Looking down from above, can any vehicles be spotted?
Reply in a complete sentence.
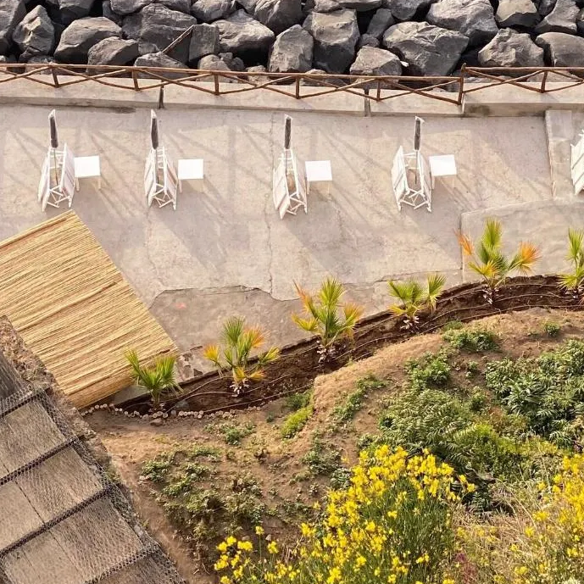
No, no vehicle can be seen from above.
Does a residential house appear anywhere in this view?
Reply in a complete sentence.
No, there appears to be no residential house in this shot.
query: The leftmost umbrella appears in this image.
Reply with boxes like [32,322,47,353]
[42,113,60,188]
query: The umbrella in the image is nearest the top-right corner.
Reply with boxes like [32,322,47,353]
[409,114,424,189]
